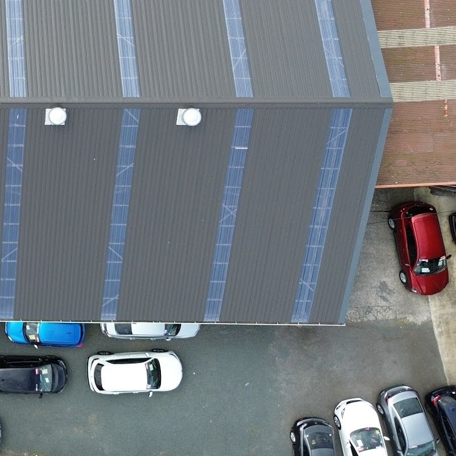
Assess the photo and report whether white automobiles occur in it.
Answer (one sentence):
Yes, this view includes a white automobile.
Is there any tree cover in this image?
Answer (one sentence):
No, the scene doesn't show any tree cover.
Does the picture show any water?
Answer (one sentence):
No, there is no water in the image.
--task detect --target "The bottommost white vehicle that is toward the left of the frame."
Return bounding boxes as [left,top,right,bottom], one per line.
[86,348,181,398]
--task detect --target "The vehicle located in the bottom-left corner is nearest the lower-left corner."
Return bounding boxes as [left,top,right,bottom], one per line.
[0,353,66,400]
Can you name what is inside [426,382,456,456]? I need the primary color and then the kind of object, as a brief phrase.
black car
